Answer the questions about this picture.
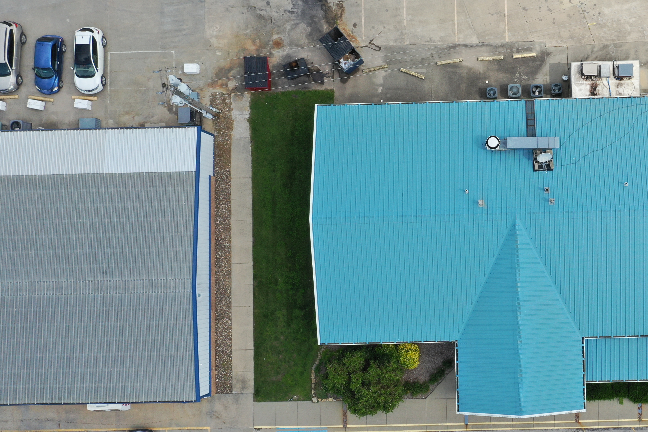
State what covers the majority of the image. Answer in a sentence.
The largest share of the image is taken up by buildings.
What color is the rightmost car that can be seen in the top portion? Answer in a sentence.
The rightmost car that can be seen in the top portion is white.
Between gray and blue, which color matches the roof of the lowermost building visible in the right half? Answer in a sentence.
In this view, the roof of the lowermost building visible in the right half is blue.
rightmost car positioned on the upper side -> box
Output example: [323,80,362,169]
[69,25,107,95]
